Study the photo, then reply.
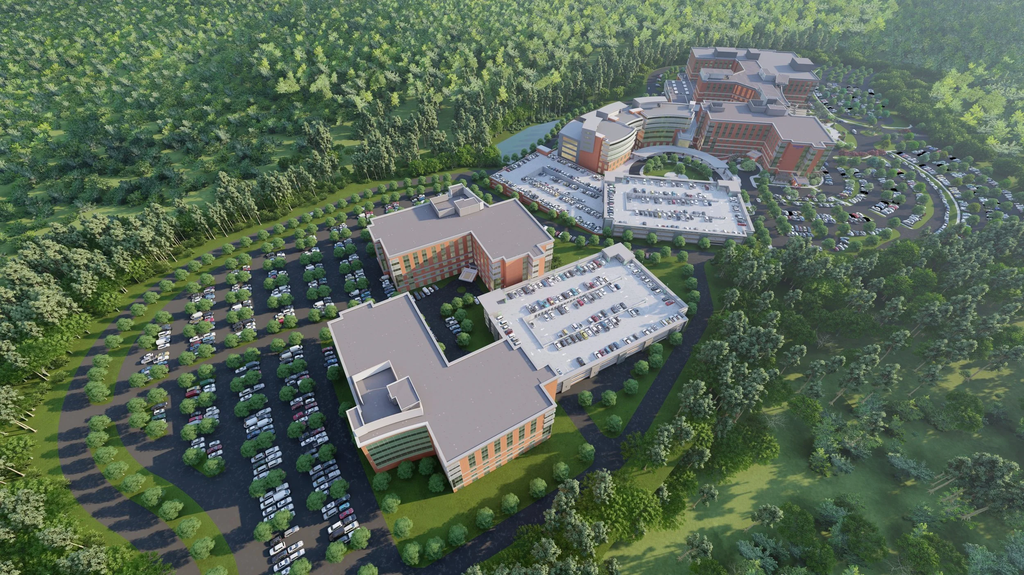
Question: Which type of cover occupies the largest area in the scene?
trees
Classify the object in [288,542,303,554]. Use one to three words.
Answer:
vehicle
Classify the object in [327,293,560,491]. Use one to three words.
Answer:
building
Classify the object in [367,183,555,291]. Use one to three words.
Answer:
building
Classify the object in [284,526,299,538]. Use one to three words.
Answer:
vehicle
